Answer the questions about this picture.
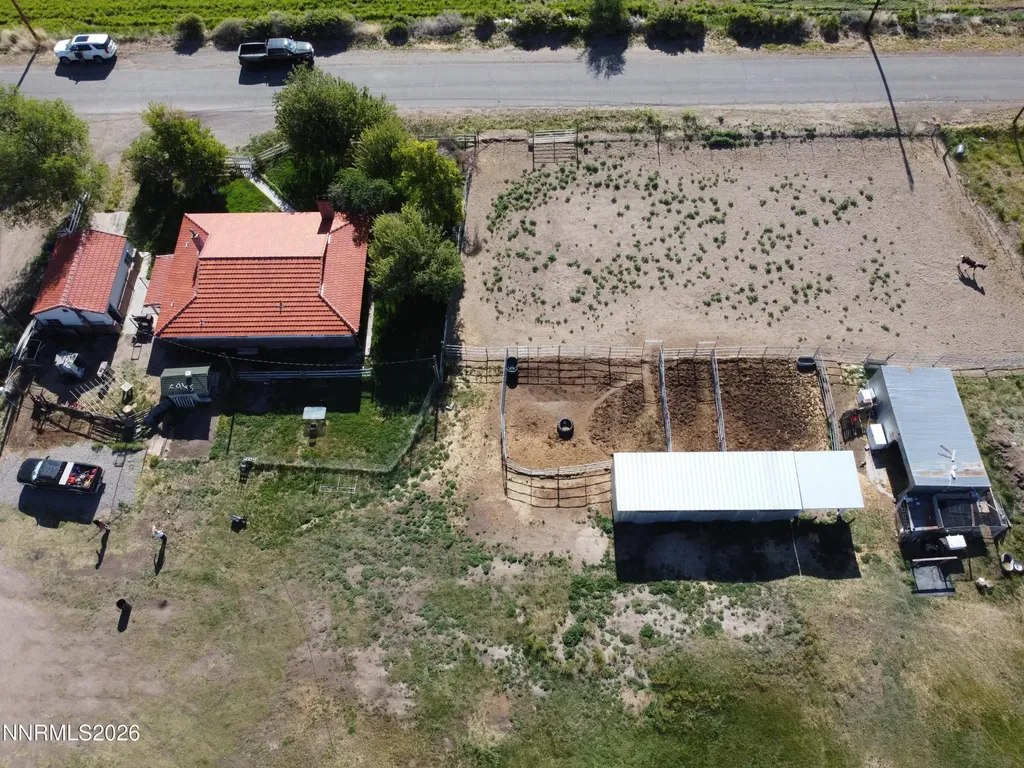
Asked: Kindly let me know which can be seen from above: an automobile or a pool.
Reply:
automobile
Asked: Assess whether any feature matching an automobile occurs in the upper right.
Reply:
No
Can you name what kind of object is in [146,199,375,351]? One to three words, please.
house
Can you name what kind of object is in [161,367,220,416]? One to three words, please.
shed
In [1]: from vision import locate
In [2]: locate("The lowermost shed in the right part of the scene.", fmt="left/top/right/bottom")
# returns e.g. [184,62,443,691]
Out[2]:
[608,450,863,523]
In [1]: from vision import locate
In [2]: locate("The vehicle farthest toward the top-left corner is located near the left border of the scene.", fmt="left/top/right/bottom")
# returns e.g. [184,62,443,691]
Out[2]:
[49,31,115,63]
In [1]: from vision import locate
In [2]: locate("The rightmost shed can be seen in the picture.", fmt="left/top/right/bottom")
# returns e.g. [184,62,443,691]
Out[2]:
[871,367,987,501]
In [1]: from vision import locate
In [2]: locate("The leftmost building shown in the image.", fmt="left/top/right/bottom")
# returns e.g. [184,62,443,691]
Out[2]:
[27,227,135,338]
